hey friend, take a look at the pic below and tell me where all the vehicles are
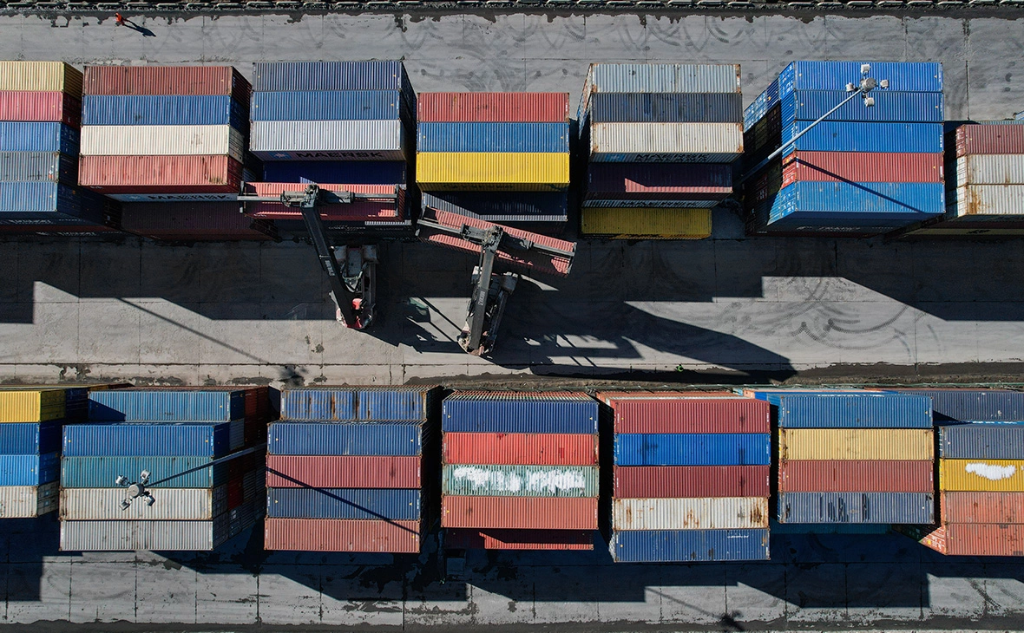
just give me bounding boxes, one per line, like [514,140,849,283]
[415,202,575,358]
[241,181,400,330]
